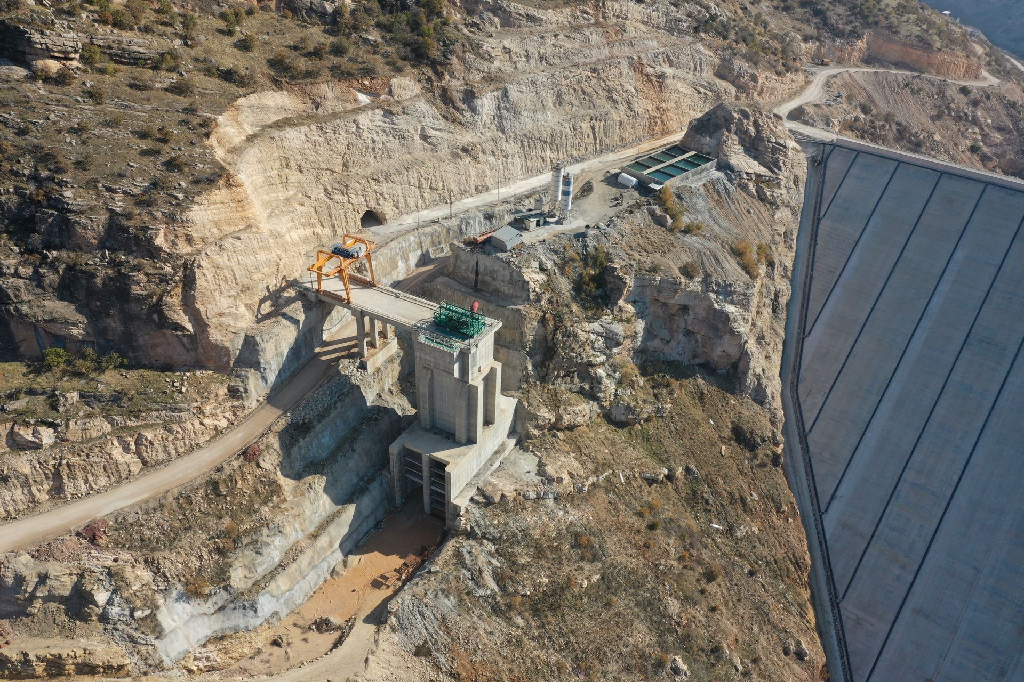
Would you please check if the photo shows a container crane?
Yes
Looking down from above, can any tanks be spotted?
Yes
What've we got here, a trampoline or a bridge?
bridge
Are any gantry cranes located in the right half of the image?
No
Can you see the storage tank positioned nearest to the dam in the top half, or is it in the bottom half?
top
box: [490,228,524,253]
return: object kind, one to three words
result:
shed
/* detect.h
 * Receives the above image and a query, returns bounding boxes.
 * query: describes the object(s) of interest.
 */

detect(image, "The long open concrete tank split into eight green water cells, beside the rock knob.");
[621,145,717,193]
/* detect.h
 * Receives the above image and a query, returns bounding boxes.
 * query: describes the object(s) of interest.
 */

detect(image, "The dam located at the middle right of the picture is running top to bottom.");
[780,121,1024,682]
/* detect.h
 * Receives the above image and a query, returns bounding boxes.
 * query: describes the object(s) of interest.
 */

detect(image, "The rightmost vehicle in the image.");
[812,53,831,65]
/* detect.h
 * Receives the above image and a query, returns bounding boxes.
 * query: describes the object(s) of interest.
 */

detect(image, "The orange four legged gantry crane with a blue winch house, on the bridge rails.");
[306,234,377,303]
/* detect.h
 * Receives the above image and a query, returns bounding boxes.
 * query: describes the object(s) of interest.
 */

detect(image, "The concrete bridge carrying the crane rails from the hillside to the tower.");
[313,273,502,378]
